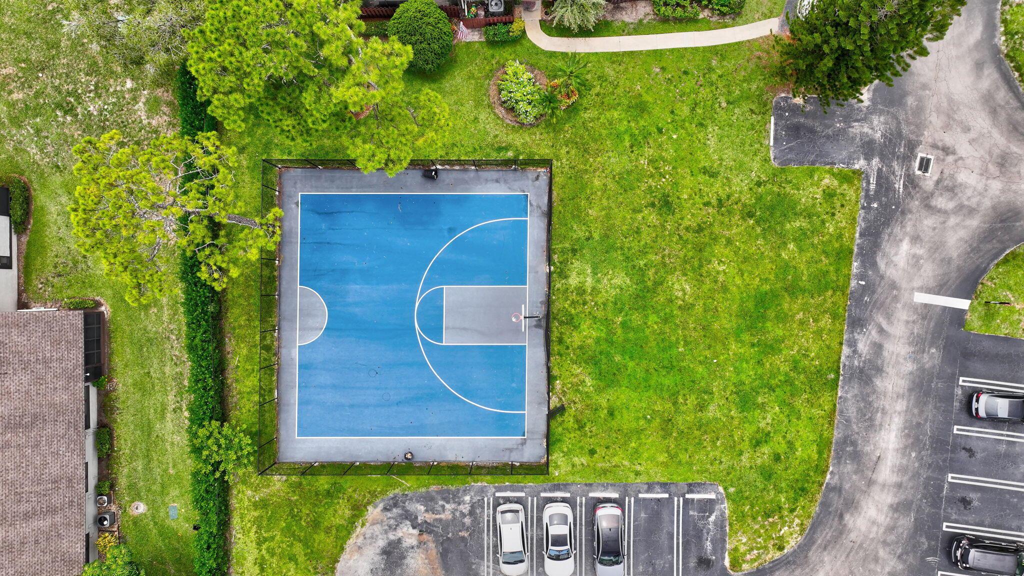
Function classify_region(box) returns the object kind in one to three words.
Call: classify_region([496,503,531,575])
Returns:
car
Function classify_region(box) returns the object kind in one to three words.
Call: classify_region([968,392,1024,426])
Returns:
car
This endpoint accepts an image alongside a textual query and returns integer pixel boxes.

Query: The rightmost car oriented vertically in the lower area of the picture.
[592,502,629,576]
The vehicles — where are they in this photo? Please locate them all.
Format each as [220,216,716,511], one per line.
[541,502,578,576]
[948,537,1024,576]
[968,392,1024,426]
[592,502,629,576]
[496,503,531,575]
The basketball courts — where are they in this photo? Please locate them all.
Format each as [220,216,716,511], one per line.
[276,168,549,463]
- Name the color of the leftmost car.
white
